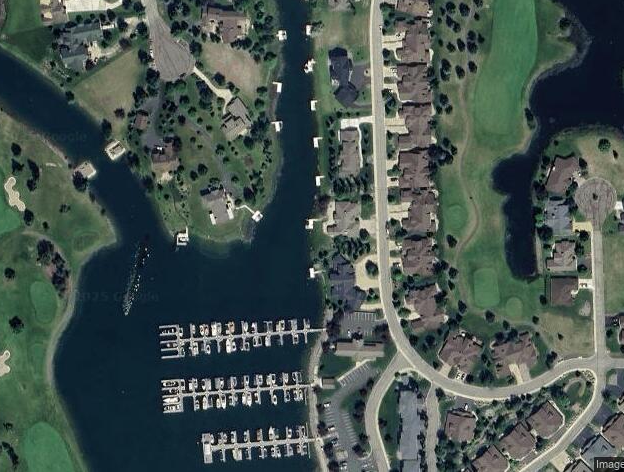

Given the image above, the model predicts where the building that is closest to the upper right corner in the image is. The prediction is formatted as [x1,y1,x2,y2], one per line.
[545,153,583,194]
